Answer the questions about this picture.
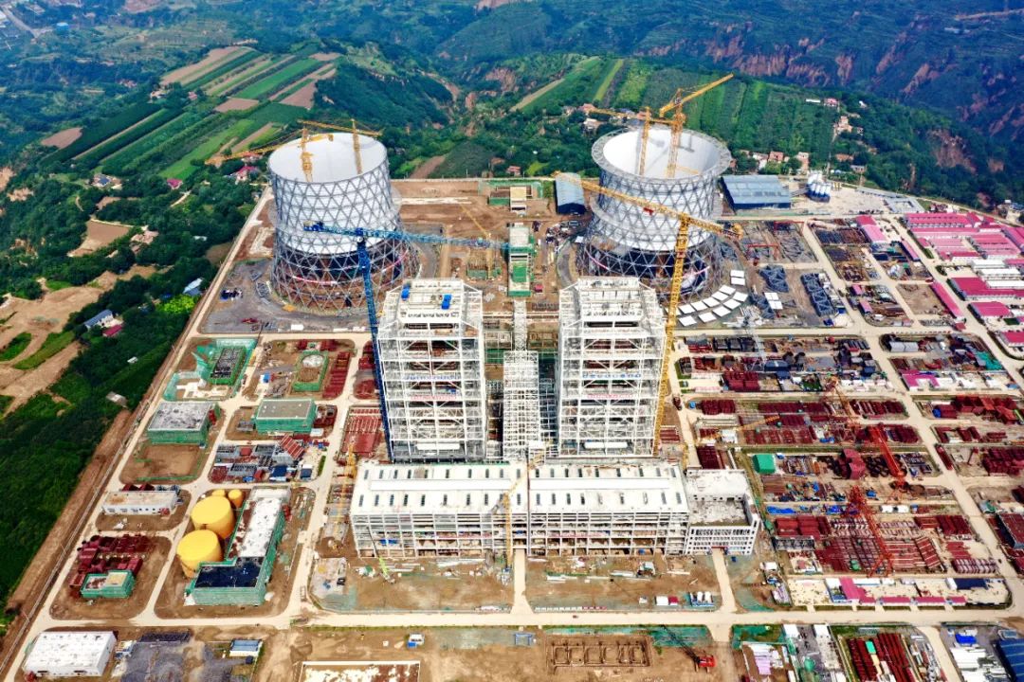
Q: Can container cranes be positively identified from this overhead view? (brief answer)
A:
Yes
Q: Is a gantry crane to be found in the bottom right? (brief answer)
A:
Yes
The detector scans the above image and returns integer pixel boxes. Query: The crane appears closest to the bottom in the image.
[664,625,720,666]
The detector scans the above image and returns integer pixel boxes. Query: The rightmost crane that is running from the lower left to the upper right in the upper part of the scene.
[660,74,734,171]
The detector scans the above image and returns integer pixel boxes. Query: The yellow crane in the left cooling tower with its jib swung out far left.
[206,130,333,179]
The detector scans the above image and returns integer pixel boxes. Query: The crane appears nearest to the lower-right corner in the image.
[845,490,898,575]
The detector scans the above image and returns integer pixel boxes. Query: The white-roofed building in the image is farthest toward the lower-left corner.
[26,630,122,682]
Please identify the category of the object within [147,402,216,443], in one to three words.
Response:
building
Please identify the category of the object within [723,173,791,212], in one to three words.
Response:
shed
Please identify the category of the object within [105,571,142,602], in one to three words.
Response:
building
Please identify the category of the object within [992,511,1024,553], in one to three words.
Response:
shed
